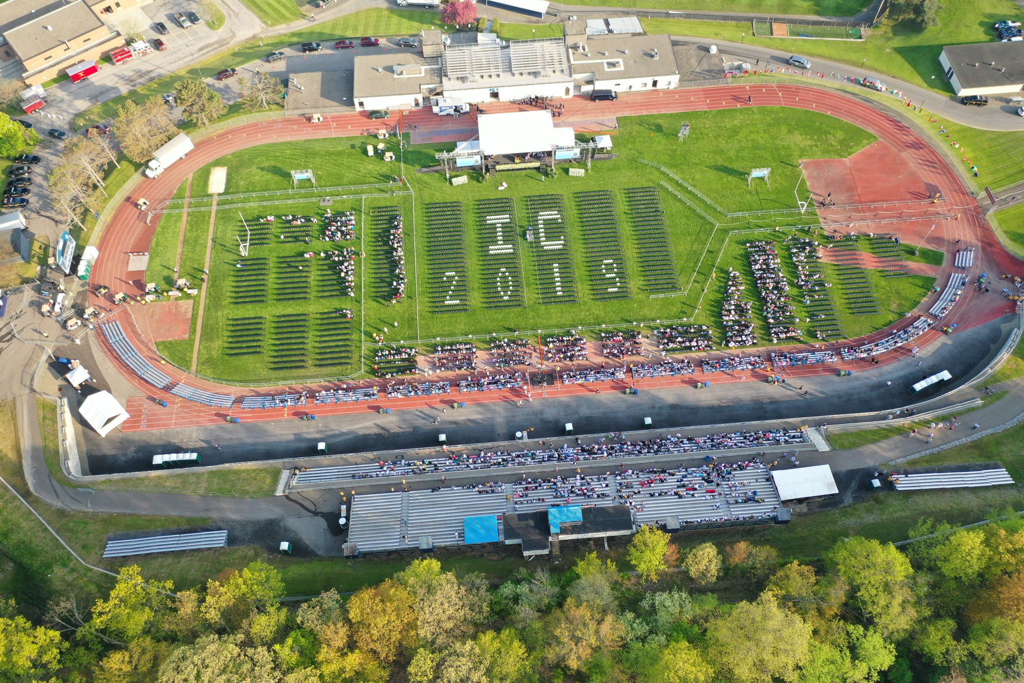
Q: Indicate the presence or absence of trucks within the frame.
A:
Yes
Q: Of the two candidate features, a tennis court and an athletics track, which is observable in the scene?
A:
athletics track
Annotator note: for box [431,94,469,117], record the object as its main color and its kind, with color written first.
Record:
white truck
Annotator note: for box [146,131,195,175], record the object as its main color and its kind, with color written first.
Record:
white truck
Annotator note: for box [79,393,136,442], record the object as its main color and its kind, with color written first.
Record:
white tent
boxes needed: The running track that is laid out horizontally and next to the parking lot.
[91,83,994,420]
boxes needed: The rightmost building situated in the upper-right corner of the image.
[937,38,1024,99]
